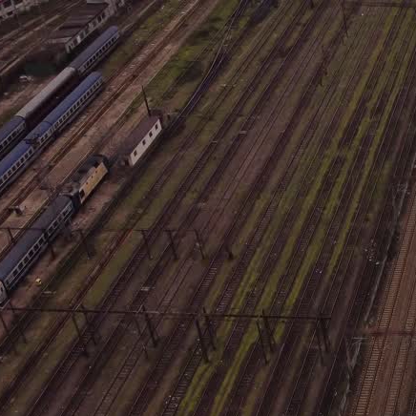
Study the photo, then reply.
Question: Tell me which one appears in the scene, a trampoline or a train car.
train car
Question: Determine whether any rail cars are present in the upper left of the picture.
Yes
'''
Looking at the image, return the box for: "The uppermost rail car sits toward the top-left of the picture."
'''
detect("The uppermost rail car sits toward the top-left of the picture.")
[68,27,124,81]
